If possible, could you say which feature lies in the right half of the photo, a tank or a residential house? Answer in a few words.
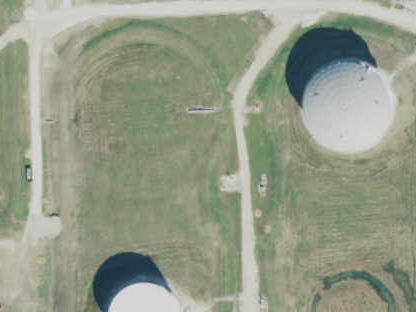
tank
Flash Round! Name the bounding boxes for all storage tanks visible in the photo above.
[108,277,182,312]
[304,56,395,150]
